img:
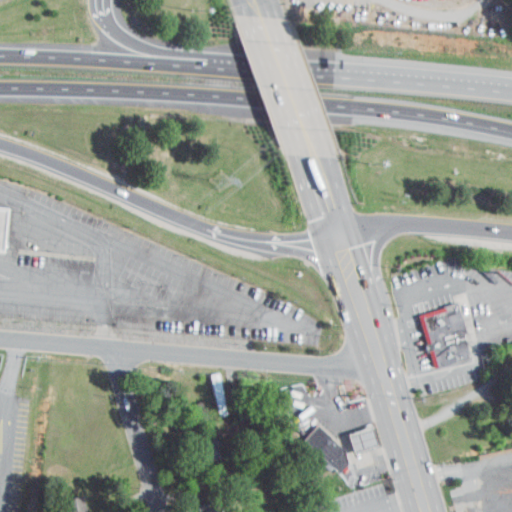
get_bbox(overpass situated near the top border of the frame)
[234,16,338,158]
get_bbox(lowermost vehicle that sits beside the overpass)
[307,152,326,191]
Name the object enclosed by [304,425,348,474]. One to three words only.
building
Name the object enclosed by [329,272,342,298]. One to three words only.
vehicle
